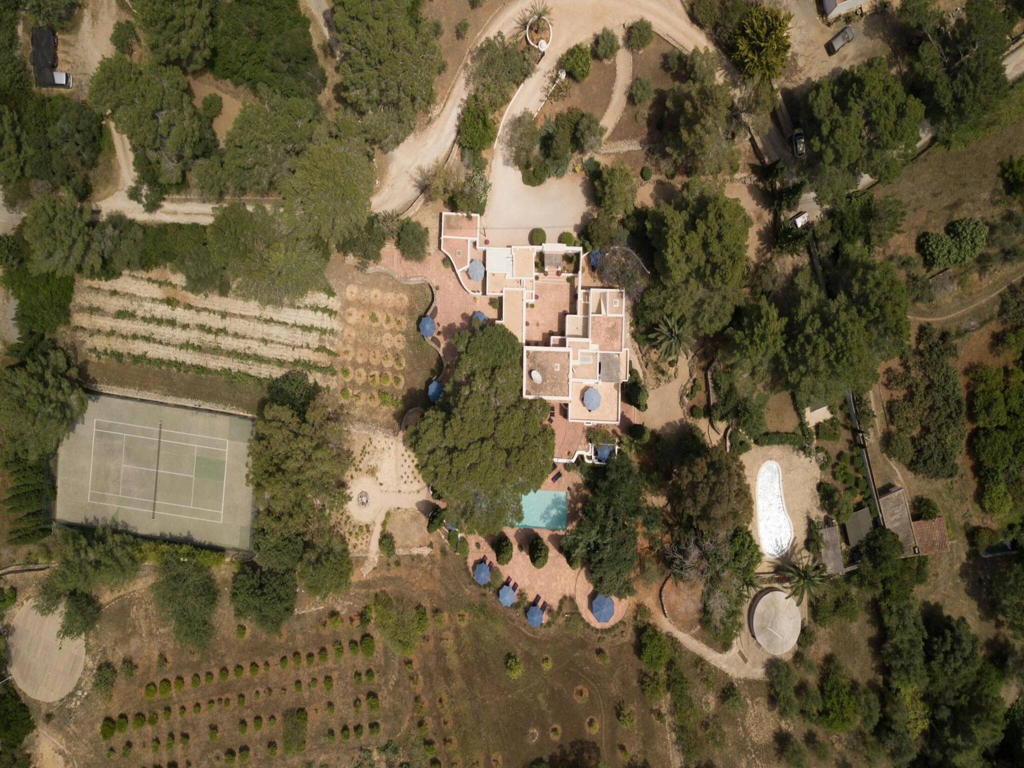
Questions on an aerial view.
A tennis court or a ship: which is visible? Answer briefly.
tennis court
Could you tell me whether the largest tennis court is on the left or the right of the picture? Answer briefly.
left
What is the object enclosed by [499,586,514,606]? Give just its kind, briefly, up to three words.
umbrella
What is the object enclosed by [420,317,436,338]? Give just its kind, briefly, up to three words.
umbrella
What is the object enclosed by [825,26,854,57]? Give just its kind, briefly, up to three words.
truck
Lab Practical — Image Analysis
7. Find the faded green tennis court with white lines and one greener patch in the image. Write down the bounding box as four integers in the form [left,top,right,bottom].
[54,393,255,550]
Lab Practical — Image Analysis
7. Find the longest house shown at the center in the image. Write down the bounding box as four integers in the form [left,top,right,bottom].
[441,212,636,426]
